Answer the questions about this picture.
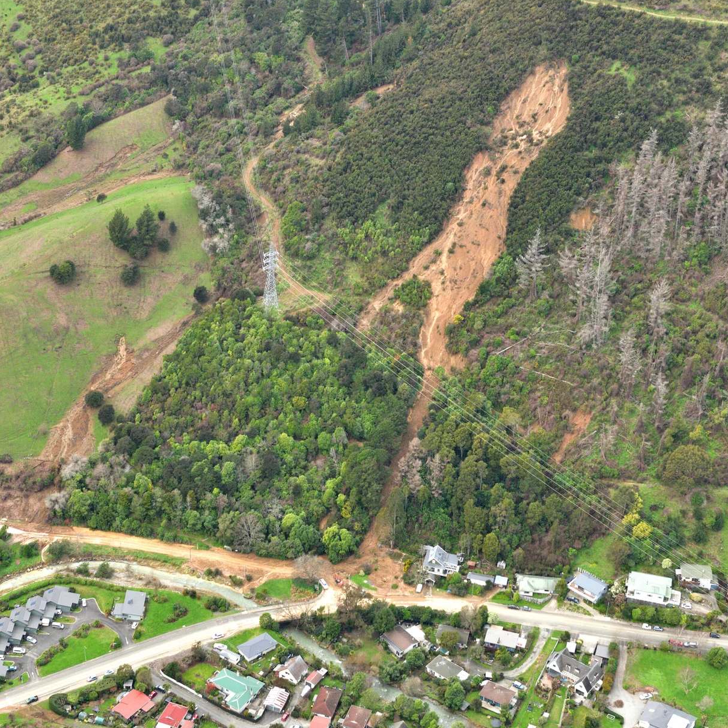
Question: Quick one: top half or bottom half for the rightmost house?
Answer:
bottom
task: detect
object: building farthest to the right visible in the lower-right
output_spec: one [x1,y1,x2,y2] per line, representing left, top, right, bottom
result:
[680,563,718,593]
